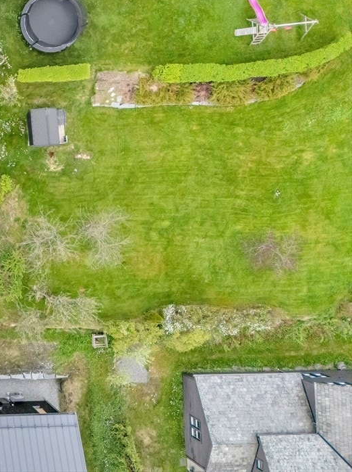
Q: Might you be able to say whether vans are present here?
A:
No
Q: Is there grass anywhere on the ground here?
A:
Yes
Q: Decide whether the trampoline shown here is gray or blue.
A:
gray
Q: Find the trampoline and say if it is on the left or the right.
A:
left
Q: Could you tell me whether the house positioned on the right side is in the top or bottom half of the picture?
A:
bottom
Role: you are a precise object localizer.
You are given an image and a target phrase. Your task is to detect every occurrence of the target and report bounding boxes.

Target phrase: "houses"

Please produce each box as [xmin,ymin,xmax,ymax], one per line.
[181,367,352,472]
[0,400,87,472]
